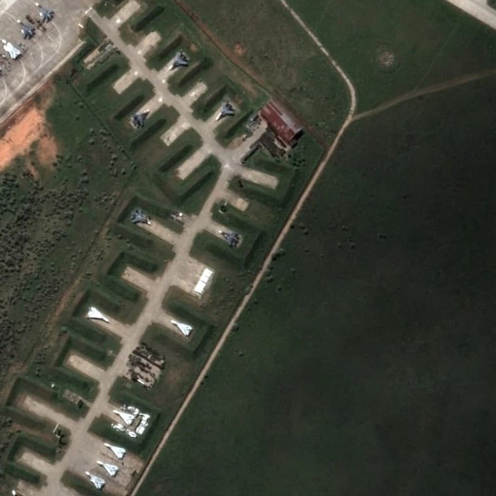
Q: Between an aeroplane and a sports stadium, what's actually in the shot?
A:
aeroplane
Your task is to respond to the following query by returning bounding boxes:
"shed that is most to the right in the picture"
[259,99,306,146]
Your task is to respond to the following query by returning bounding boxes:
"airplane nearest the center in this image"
[219,231,241,246]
